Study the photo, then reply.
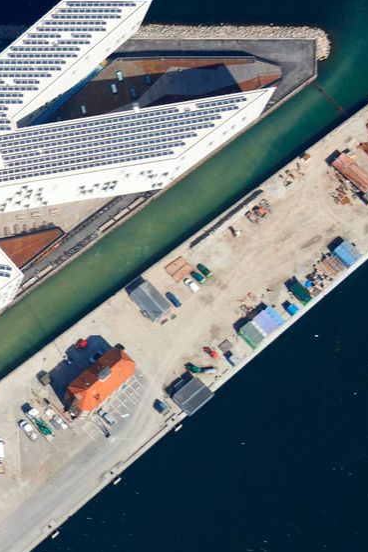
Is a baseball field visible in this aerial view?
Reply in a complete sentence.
No, the picture doesn't show any baseball field.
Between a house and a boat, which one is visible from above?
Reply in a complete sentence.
Of the two, only a house appears.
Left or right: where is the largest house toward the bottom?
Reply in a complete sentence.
It is on the left.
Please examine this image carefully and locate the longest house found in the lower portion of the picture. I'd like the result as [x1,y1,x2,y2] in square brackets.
[56,349,139,425]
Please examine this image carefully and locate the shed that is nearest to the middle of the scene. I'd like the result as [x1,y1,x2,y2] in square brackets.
[128,279,170,323]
